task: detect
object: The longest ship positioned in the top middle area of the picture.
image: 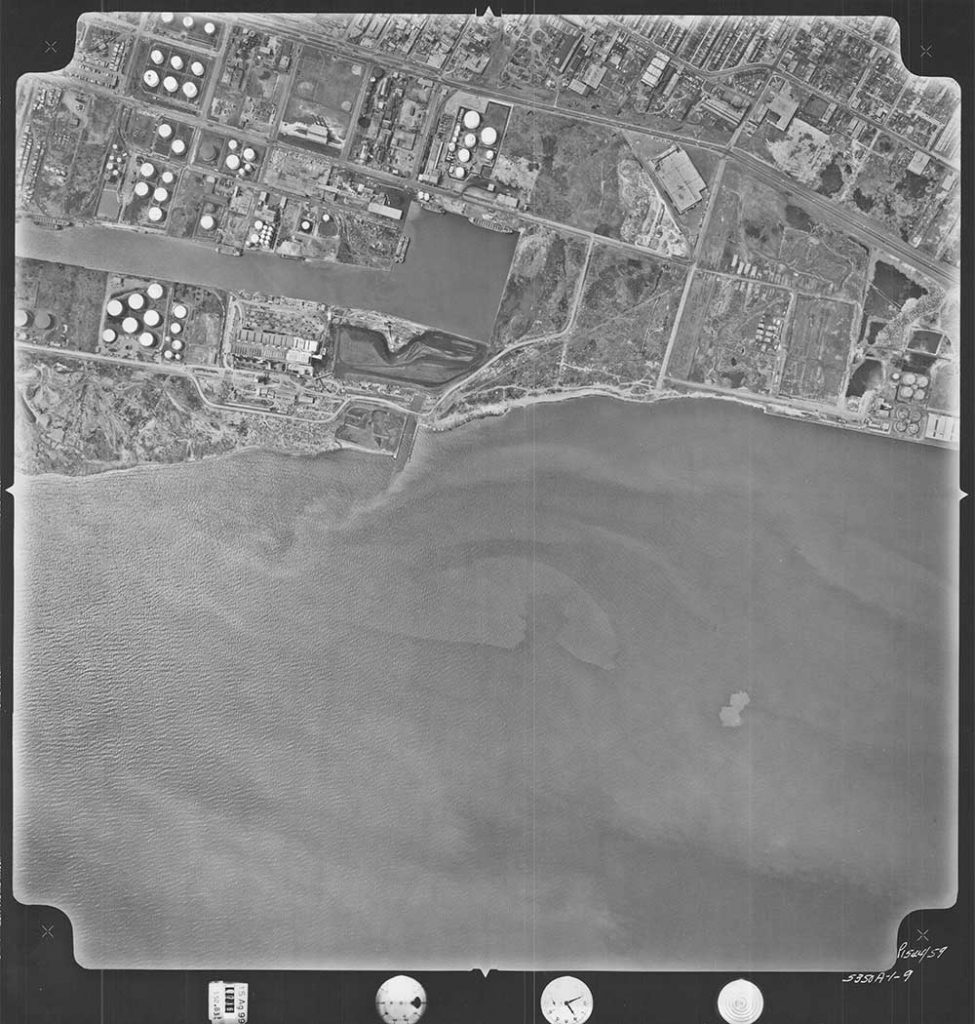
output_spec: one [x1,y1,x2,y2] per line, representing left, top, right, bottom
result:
[469,219,511,233]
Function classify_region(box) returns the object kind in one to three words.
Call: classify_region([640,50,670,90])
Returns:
building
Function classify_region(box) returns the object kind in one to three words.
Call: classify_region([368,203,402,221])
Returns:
building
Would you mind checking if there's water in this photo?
Yes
